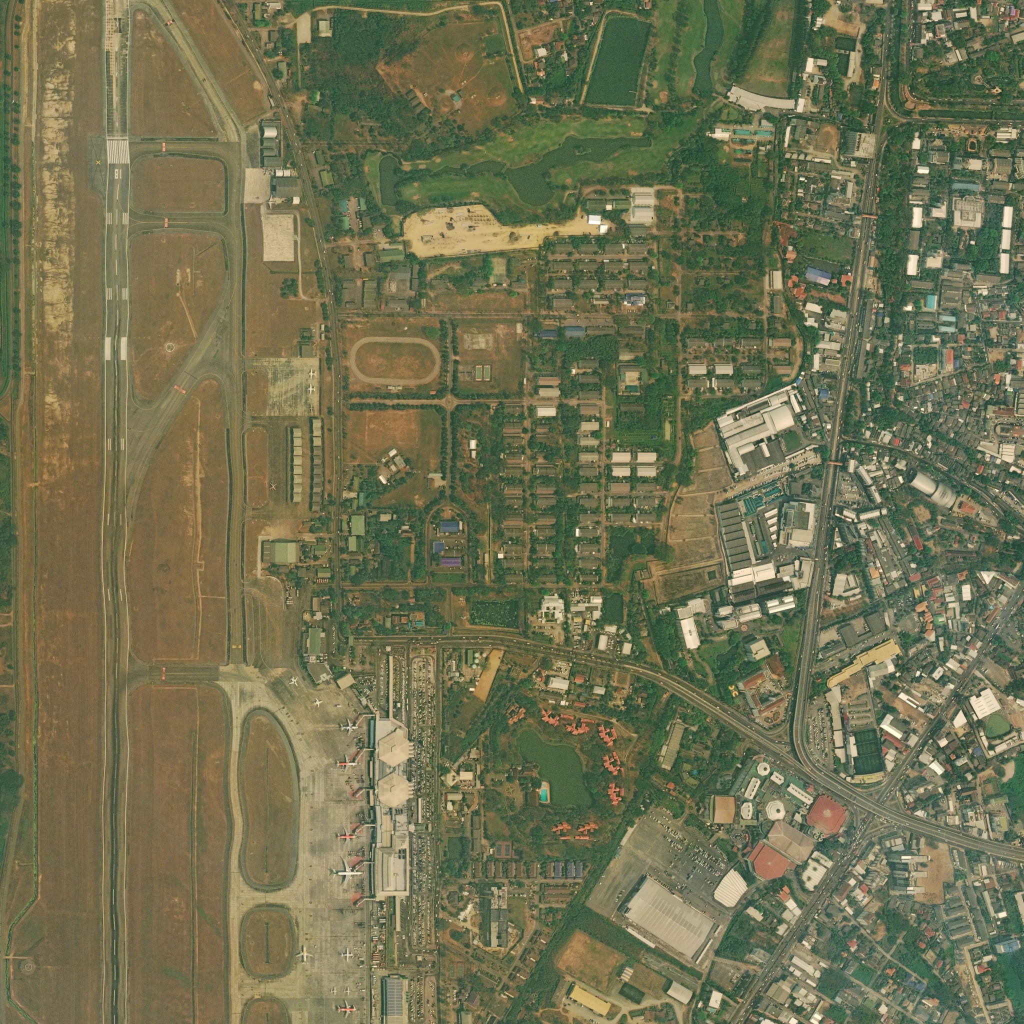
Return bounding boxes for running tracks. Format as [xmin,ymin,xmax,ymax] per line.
[350,337,441,385]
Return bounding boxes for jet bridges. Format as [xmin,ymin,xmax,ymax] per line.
[353,824,374,836]
[352,748,373,764]
[353,714,375,728]
[351,862,373,872]
[354,898,375,909]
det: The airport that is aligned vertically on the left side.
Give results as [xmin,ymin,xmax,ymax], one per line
[88,0,369,1024]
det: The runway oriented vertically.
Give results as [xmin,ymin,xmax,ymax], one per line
[102,0,130,1024]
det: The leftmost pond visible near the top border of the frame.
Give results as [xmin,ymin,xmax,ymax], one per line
[585,14,652,106]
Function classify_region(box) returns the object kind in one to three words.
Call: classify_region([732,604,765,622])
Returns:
building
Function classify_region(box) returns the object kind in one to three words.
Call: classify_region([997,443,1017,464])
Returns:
building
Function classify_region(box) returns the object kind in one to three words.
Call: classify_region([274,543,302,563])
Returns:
hangar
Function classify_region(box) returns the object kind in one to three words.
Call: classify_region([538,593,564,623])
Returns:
house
